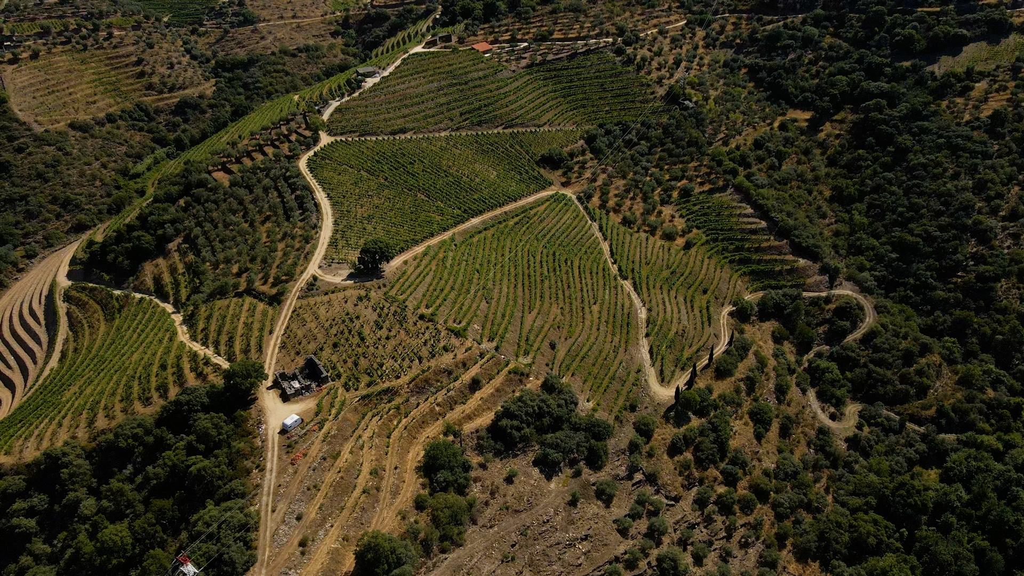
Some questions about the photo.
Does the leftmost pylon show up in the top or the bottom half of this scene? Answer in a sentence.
The leftmost pylon is in the bottom half of the image.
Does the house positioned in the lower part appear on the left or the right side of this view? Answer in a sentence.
It is on the left.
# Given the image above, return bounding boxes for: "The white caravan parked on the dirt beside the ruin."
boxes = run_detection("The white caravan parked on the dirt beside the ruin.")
[280,411,304,429]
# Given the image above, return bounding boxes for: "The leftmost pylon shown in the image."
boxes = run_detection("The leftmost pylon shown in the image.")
[177,550,200,576]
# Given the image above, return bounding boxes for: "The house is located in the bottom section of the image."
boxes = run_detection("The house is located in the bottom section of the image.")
[274,353,332,401]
